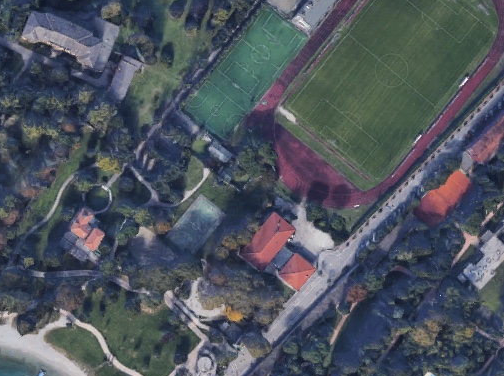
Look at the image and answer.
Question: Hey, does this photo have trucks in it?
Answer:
No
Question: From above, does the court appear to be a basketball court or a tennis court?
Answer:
tennis court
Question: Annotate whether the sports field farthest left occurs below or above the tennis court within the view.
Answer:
above it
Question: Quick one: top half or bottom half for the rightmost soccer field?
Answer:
top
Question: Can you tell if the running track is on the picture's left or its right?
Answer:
right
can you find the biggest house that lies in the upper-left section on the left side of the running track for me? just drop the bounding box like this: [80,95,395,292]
[22,10,120,72]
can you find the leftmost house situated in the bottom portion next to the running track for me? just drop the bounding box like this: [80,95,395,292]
[238,211,296,271]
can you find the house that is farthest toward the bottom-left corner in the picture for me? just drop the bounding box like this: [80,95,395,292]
[60,208,105,255]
